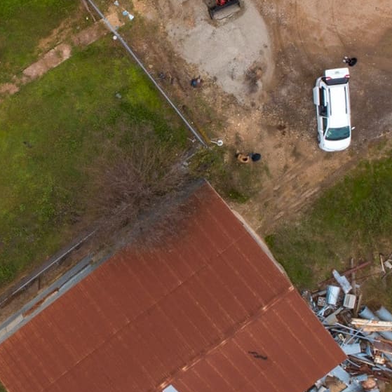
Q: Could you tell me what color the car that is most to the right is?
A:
white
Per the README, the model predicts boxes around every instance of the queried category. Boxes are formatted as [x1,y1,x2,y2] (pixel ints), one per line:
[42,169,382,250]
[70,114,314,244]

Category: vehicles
[207,0,241,19]
[316,70,357,153]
